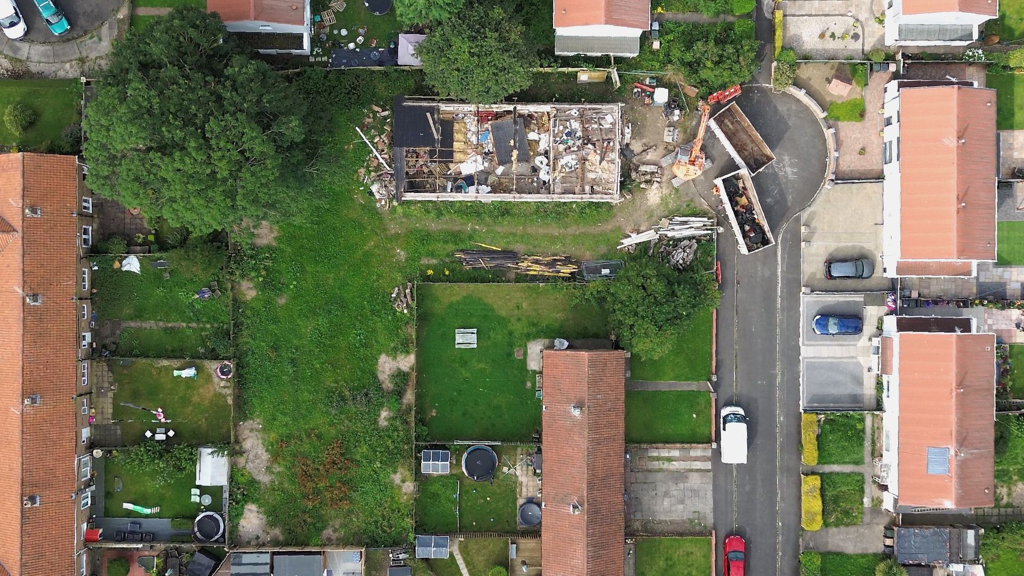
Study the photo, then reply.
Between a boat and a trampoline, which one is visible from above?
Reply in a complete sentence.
It is a trampoline that can be seen here.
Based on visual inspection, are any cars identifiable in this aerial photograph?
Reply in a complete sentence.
Yes, looking at the shot, I can spot a car.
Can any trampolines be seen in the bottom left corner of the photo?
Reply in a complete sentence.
Yes, I can see a trampoline in the bottom left corner of the photo.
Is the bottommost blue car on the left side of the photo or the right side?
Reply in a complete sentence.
The bottommost blue car appears in the right half of the scene.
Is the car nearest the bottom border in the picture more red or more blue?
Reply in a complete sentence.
The color of the car nearest the bottom border is red.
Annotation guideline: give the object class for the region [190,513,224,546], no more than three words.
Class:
trampoline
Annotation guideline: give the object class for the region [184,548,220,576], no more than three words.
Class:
shed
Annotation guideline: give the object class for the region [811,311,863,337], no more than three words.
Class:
car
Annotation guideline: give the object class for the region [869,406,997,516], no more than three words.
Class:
house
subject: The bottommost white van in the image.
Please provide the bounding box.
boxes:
[720,405,750,465]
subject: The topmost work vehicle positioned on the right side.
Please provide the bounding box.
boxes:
[656,98,714,186]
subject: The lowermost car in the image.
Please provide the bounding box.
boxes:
[722,533,748,576]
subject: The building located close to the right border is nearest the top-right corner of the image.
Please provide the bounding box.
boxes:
[886,0,999,47]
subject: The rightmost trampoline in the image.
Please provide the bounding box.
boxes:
[461,445,497,484]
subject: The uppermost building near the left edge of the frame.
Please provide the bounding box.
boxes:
[0,149,93,256]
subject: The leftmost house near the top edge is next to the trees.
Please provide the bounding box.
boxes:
[206,0,316,57]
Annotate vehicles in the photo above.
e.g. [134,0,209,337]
[722,533,748,576]
[811,311,863,337]
[0,0,28,40]
[823,256,874,281]
[656,98,714,186]
[720,405,750,465]
[32,0,70,33]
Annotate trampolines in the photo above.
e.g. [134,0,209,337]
[461,445,497,484]
[365,0,393,17]
[190,513,224,546]
[217,362,231,378]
